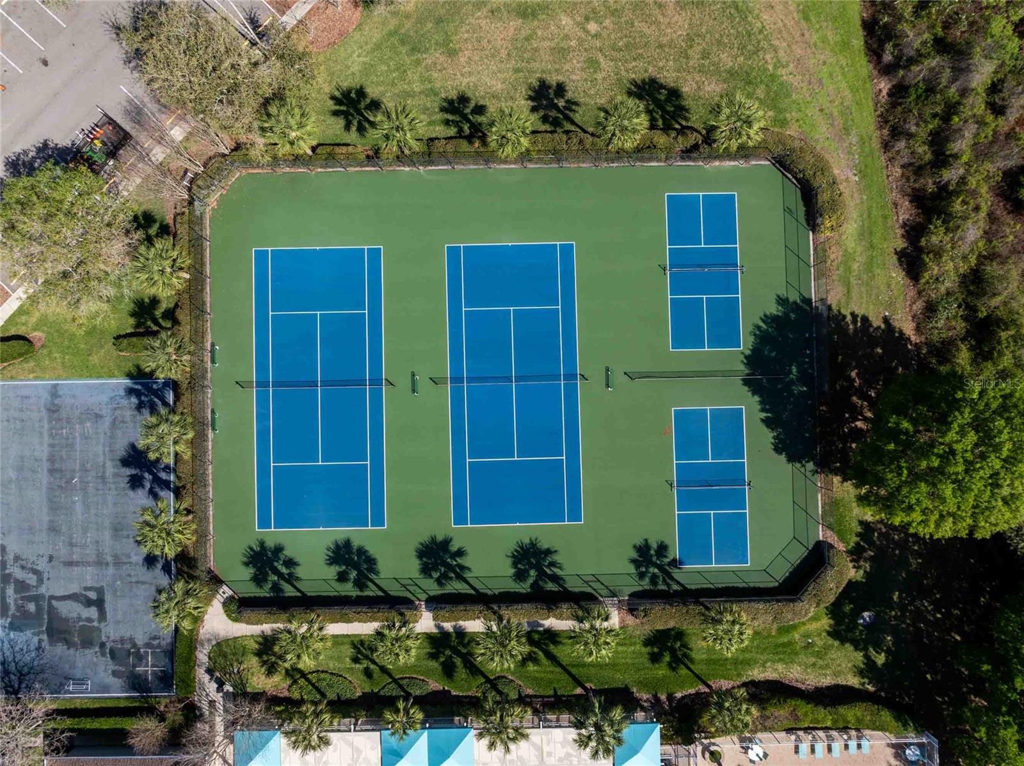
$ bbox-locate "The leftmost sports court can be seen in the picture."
[0,380,175,697]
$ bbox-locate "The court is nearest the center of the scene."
[446,242,583,526]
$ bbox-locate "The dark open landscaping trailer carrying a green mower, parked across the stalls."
[59,109,124,176]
